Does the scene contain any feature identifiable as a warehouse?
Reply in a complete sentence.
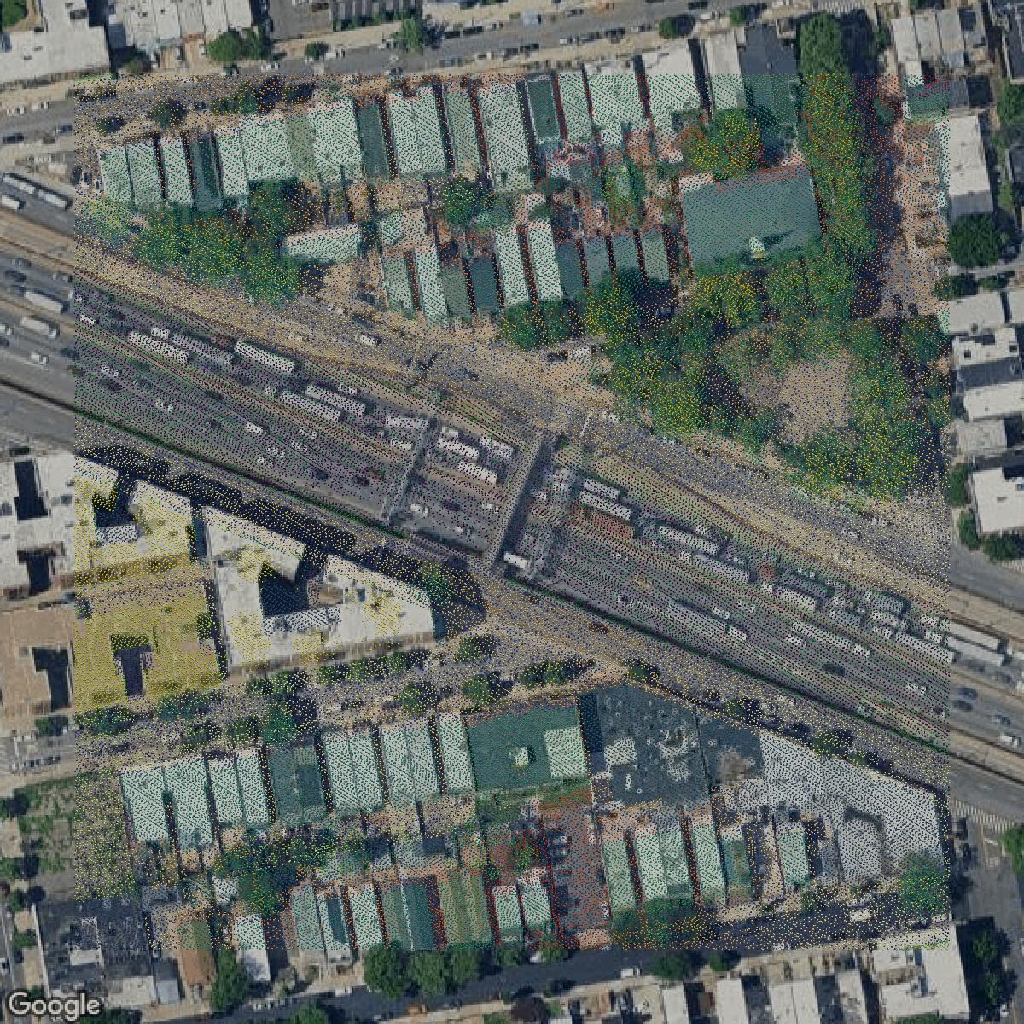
Yes, a warehouse appears in the view.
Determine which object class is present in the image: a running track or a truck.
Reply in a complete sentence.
Visible in the photo is a truck.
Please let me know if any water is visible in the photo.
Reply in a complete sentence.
No, no water is visible.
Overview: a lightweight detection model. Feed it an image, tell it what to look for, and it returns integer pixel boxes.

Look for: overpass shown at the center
[483,424,553,567]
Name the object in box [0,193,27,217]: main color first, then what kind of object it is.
white truck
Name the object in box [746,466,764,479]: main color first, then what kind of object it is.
gray vehicle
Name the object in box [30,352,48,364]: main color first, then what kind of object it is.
white vehicle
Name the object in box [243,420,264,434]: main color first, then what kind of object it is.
white vehicle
